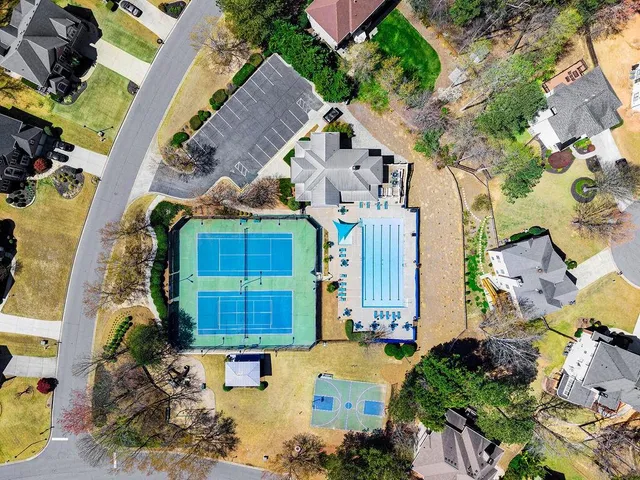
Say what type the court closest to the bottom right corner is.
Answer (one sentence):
It looks like the court closest to the bottom right corner is a basketball court.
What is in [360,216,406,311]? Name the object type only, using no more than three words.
swimming pool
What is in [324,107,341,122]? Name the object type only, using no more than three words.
car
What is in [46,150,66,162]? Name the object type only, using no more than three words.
vehicle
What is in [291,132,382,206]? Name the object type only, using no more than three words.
house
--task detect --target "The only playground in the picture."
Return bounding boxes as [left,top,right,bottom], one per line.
[157,355,216,424]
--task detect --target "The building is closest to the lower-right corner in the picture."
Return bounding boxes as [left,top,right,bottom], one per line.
[549,329,640,421]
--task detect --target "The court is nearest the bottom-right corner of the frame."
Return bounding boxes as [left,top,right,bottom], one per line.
[311,378,387,434]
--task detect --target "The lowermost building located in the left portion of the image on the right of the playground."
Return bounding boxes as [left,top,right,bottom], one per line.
[226,358,262,386]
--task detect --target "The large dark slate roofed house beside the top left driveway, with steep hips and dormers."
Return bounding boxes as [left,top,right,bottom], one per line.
[0,0,90,92]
